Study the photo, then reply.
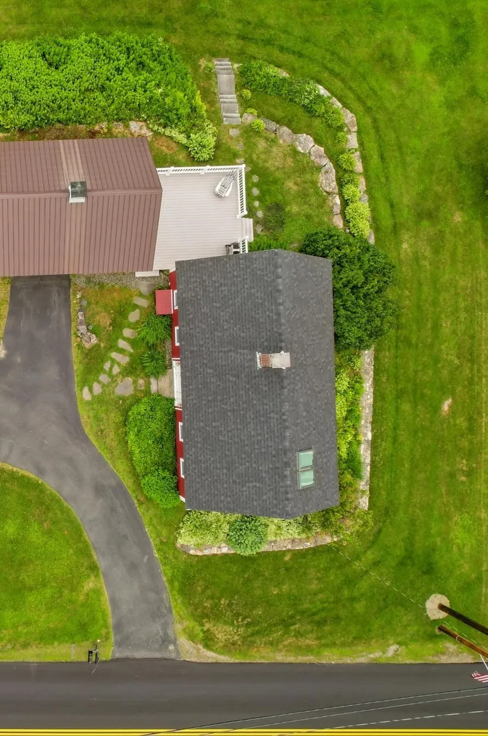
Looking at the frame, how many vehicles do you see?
0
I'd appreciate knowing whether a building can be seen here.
Yes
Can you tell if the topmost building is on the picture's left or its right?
left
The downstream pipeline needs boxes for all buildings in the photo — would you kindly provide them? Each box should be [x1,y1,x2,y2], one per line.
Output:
[168,249,339,519]
[0,135,166,276]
